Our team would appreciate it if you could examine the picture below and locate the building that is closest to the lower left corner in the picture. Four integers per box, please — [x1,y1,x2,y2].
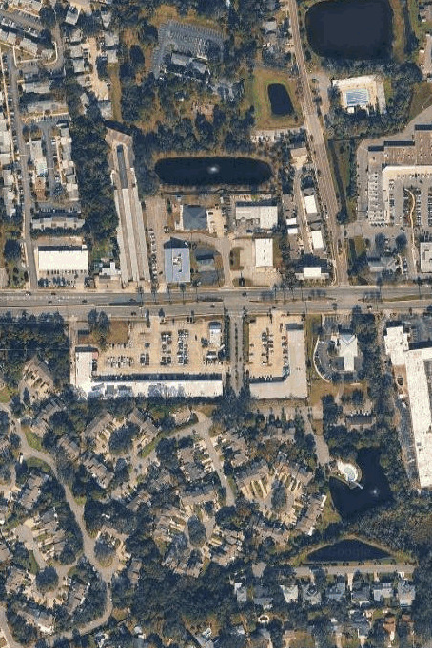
[16,609,57,634]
